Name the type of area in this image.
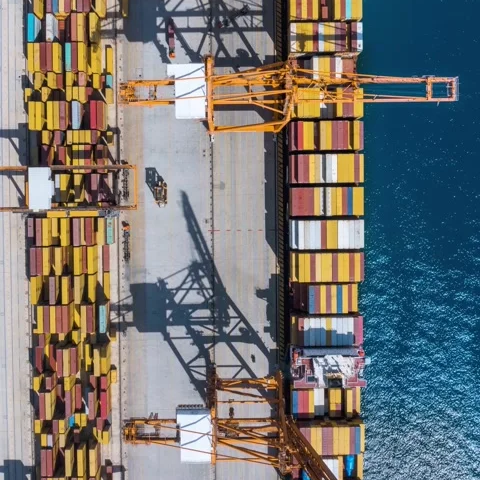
port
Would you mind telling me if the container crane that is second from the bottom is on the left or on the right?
left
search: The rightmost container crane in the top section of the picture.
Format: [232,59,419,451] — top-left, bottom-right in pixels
[118,57,459,136]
